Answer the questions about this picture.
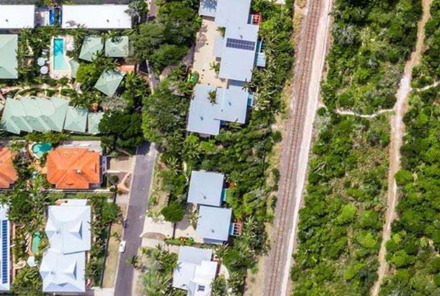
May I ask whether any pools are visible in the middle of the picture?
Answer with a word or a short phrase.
No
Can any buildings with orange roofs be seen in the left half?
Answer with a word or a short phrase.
Yes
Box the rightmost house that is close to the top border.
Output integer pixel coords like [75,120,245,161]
[199,0,265,80]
